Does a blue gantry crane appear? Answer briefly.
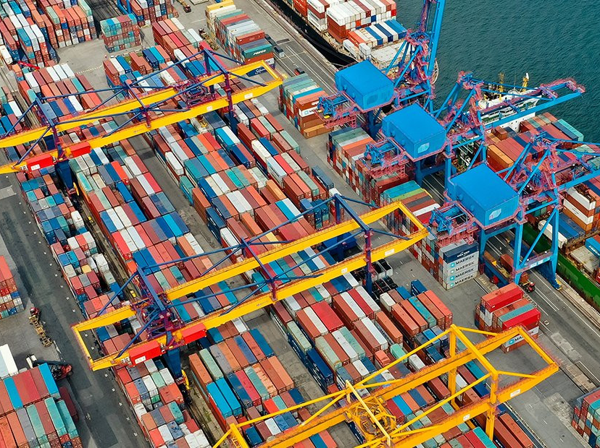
Yes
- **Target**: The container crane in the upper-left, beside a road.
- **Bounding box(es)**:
[0,48,286,193]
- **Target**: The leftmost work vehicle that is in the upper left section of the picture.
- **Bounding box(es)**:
[15,52,43,69]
